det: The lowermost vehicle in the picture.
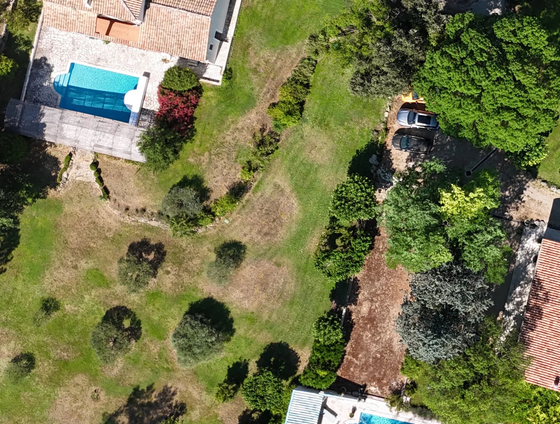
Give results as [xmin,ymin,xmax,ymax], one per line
[391,133,435,155]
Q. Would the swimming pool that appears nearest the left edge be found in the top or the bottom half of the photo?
top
